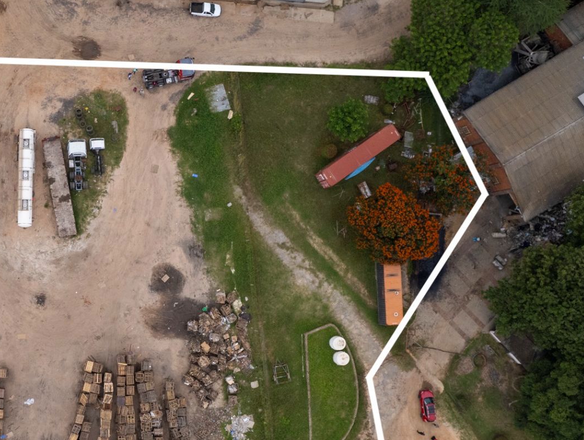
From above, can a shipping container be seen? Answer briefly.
Yes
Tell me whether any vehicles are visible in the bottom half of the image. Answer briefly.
Yes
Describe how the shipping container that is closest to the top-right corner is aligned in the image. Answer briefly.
at an angle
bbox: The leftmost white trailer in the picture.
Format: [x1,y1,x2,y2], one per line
[18,128,36,229]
